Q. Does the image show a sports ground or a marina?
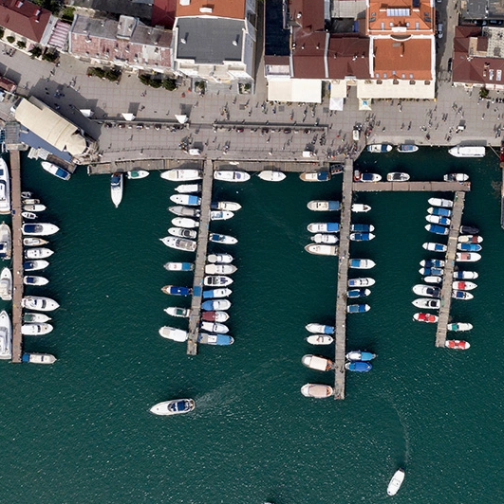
marina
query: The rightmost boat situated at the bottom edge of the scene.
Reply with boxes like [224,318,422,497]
[387,469,405,495]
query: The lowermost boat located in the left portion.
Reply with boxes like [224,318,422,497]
[150,398,196,415]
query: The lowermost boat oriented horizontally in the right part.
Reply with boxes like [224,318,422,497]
[301,384,332,399]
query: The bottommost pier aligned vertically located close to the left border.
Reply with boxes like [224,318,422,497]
[9,143,24,362]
